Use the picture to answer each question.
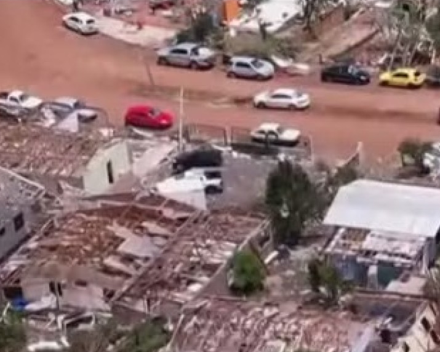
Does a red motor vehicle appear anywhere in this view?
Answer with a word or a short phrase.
Yes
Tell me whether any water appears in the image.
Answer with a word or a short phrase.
No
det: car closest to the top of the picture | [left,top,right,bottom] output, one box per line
[59,14,103,37]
